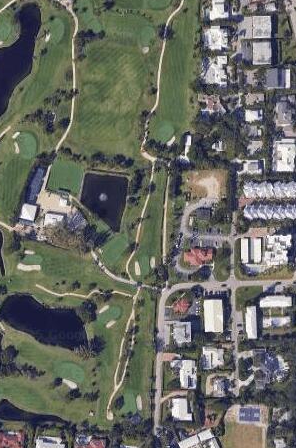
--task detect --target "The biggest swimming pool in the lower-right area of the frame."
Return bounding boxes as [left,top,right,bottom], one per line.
[266,357,281,374]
